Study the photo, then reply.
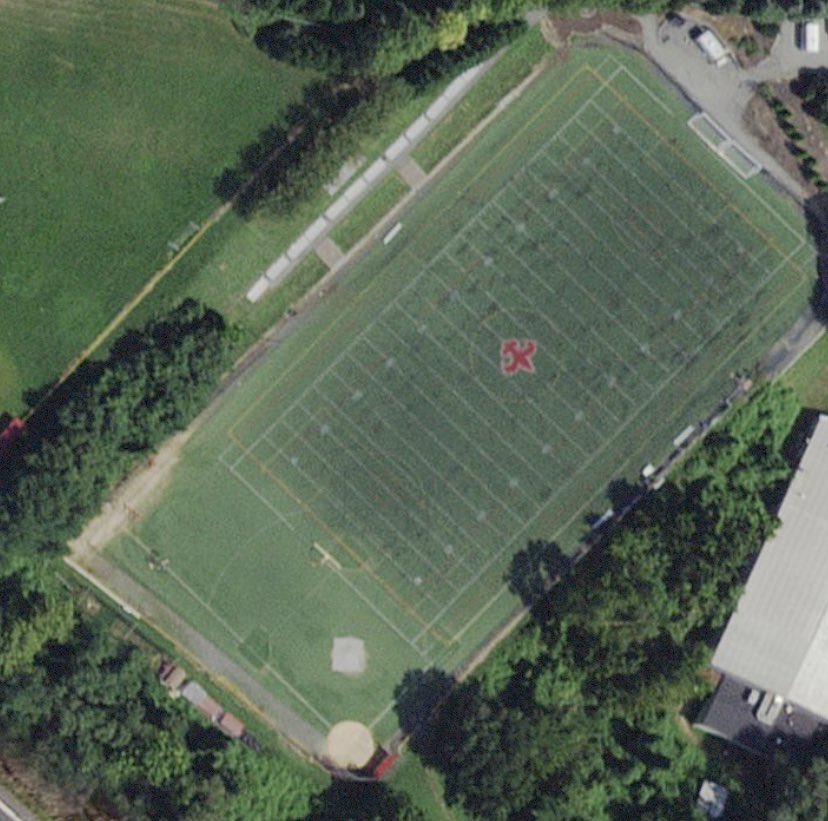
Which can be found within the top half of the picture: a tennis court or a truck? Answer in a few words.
truck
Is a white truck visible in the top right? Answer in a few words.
Yes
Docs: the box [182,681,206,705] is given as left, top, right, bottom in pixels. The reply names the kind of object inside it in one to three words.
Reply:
shed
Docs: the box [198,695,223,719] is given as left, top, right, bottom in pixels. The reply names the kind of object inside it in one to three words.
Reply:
shed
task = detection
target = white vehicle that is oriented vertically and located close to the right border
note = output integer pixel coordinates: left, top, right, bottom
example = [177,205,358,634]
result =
[806,22,821,53]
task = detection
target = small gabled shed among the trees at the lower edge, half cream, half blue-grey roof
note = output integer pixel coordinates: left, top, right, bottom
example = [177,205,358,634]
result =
[697,781,729,818]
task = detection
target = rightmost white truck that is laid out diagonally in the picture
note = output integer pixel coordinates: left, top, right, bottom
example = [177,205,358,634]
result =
[698,30,730,68]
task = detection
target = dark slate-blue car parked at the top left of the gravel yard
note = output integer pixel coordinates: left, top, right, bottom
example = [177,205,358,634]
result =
[664,9,687,28]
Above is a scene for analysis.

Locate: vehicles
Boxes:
[698,30,730,68]
[664,9,687,28]
[806,22,821,53]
